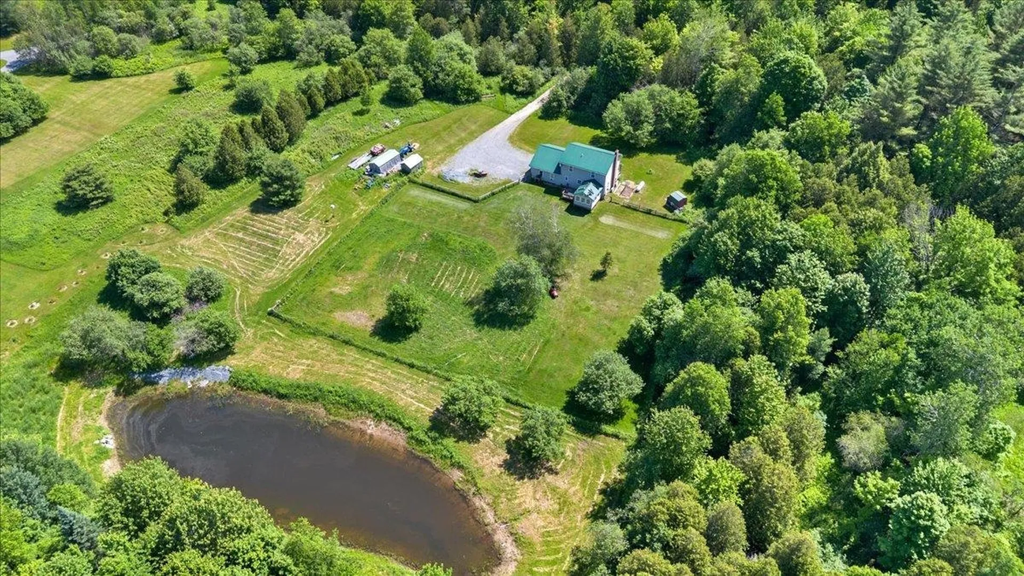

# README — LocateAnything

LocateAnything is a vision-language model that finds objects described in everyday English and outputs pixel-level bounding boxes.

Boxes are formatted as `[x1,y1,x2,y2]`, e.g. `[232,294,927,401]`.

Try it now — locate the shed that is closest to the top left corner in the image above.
[370,148,400,174]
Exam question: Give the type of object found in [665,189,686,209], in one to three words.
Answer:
shed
